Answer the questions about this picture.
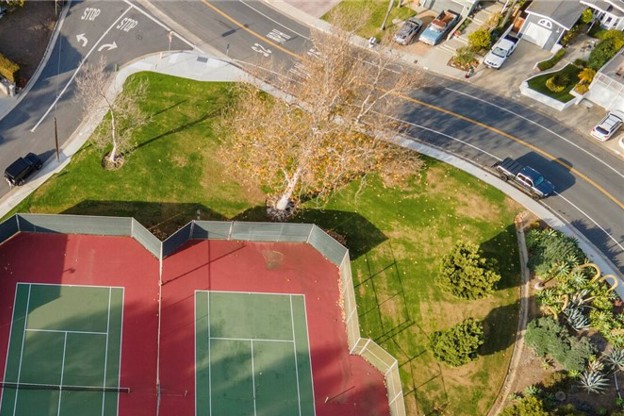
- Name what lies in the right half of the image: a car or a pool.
car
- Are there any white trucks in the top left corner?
No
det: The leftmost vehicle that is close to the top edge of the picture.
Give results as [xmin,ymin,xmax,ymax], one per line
[394,16,423,43]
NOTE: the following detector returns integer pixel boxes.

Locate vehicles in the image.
[485,30,524,68]
[394,16,423,43]
[422,4,461,43]
[498,155,560,199]
[592,109,624,142]
[5,155,41,185]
